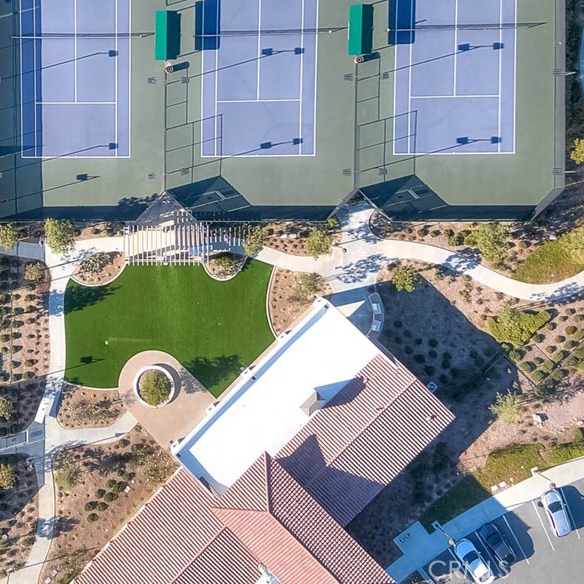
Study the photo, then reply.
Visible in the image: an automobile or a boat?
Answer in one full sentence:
It is an automobile that can be seen here.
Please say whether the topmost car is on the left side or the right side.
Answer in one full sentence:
The topmost car sits on the right side.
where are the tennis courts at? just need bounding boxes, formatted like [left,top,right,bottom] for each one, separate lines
[166,0,358,220]
[354,0,555,219]
[0,0,167,219]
